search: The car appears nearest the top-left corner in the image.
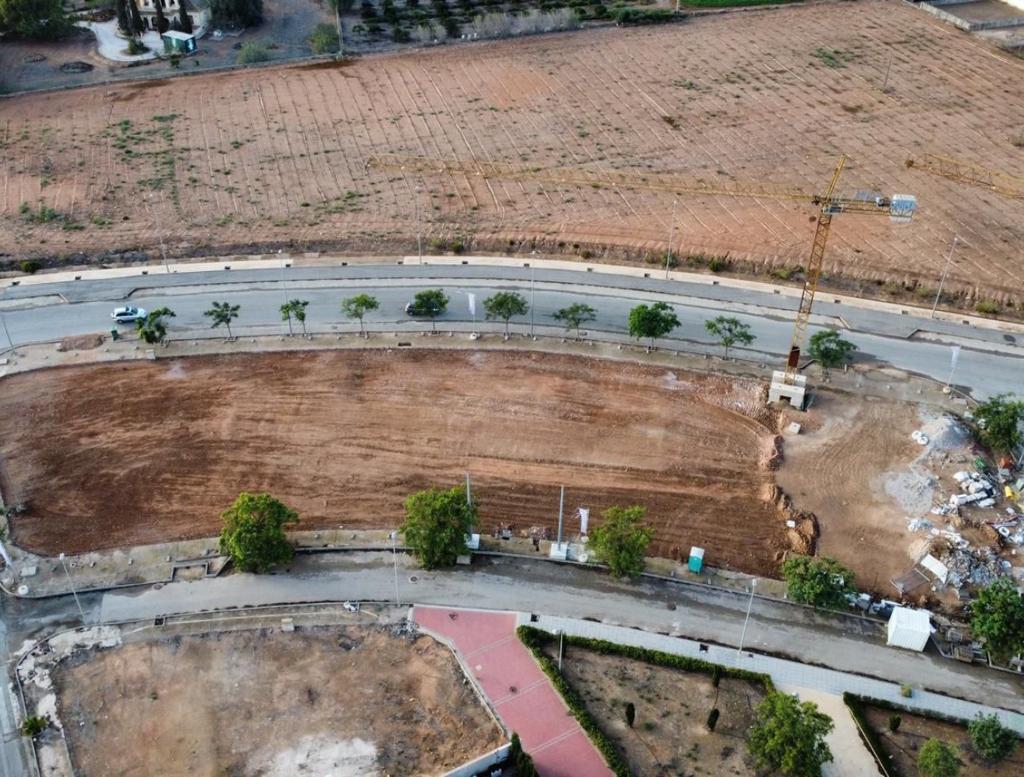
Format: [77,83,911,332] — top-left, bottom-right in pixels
[105,305,148,323]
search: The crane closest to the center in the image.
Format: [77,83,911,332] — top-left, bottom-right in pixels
[367,154,911,406]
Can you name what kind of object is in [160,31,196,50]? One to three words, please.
shed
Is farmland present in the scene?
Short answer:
Yes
